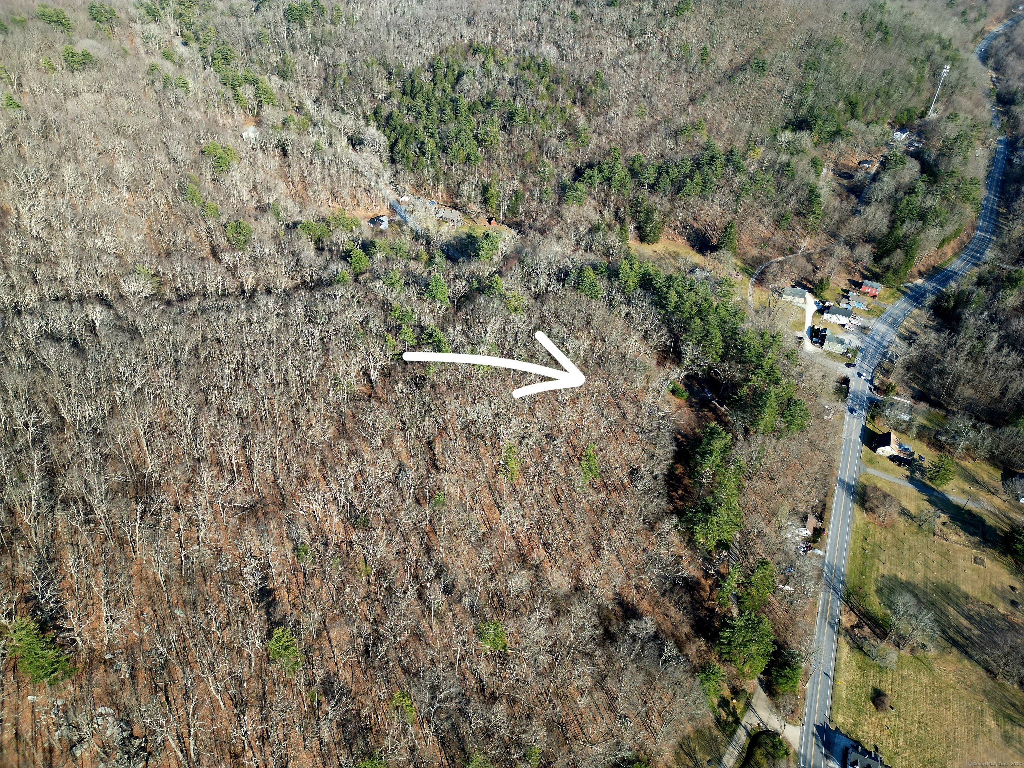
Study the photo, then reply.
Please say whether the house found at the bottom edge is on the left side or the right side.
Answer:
right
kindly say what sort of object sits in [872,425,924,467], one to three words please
house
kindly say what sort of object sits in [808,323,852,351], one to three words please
building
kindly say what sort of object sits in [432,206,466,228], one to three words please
house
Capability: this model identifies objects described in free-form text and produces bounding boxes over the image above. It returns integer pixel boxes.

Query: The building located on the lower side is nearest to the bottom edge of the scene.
[851,735,898,768]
